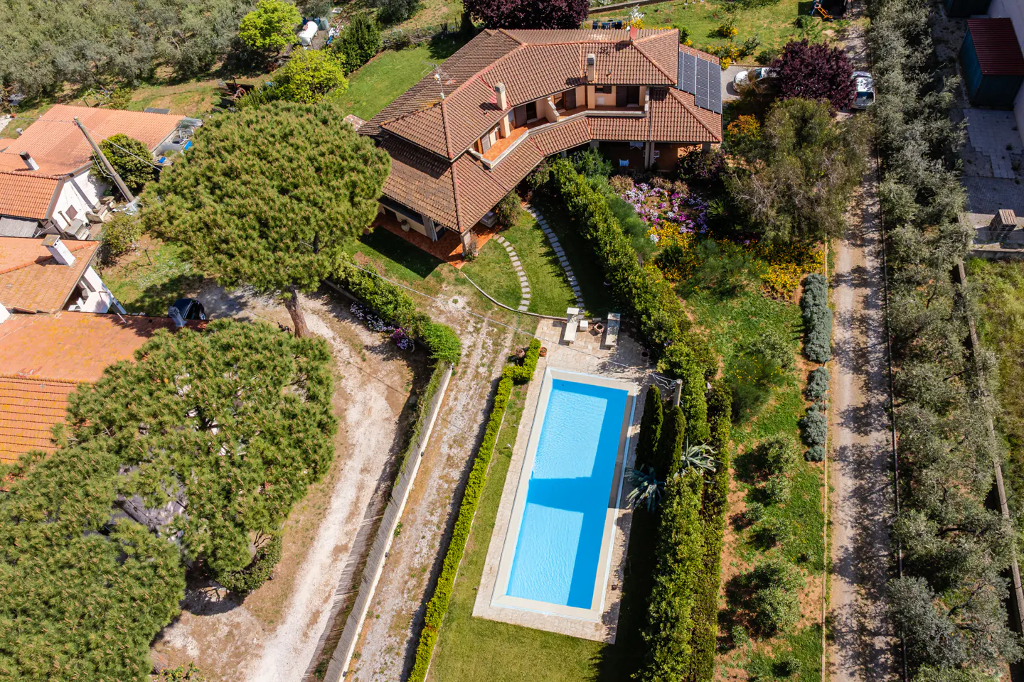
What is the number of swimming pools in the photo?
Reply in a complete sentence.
I count 1 swimming pool.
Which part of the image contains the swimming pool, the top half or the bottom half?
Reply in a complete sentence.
It is in the bottom half that the swimming pool appears.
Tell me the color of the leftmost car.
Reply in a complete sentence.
From above, the leftmost car appears black.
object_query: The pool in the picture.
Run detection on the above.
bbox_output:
[488,366,643,624]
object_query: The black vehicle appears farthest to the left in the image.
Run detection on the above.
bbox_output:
[165,288,215,324]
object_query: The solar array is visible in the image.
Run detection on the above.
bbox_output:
[681,49,722,111]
